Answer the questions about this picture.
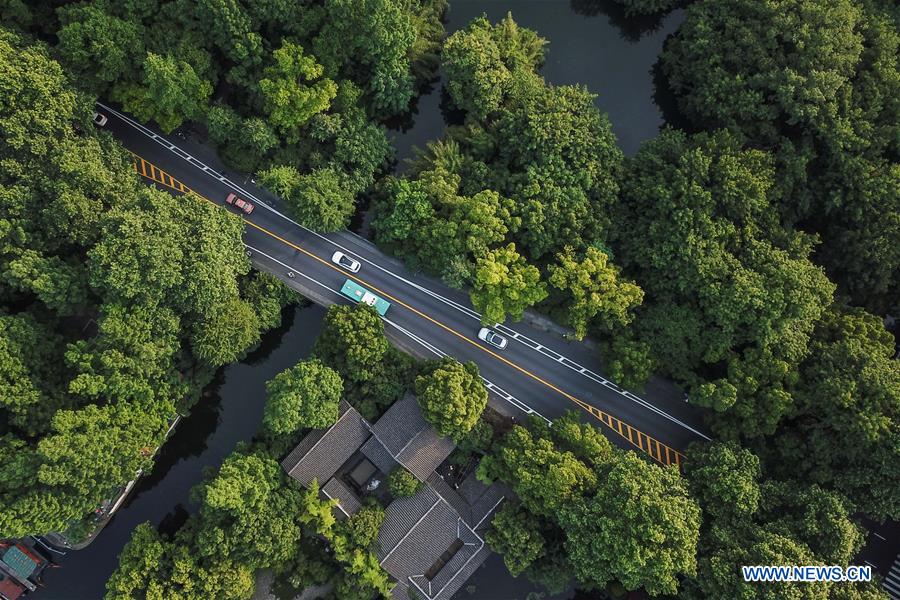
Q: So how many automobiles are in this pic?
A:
4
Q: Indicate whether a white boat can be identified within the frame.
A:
No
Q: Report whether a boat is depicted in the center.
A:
No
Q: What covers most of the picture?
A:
trees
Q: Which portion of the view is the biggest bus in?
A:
center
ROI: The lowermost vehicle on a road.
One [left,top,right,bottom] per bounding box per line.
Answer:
[476,328,508,351]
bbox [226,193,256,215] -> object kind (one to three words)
car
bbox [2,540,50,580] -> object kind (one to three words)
boat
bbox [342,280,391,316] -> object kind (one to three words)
bus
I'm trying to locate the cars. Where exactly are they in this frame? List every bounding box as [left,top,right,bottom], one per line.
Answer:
[226,193,256,215]
[476,328,508,351]
[330,250,363,274]
[86,105,108,126]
